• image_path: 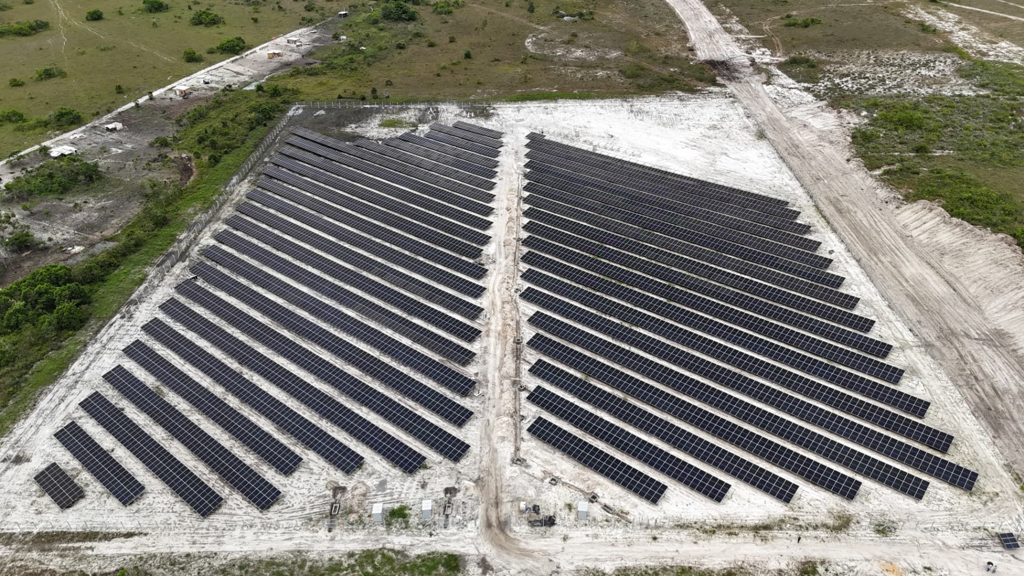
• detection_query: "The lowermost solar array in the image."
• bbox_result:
[999,532,1020,550]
